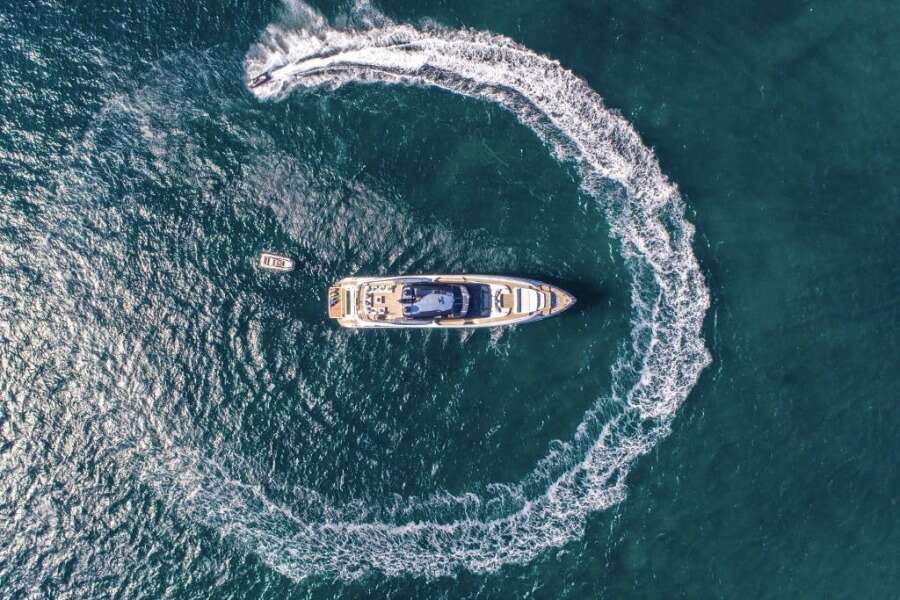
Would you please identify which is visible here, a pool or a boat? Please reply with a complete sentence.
Looking from above, you can make out a boat.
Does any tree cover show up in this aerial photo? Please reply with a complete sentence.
No, there's no tree cover in this view.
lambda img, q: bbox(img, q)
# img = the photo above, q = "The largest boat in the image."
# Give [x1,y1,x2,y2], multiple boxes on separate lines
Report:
[329,275,577,328]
